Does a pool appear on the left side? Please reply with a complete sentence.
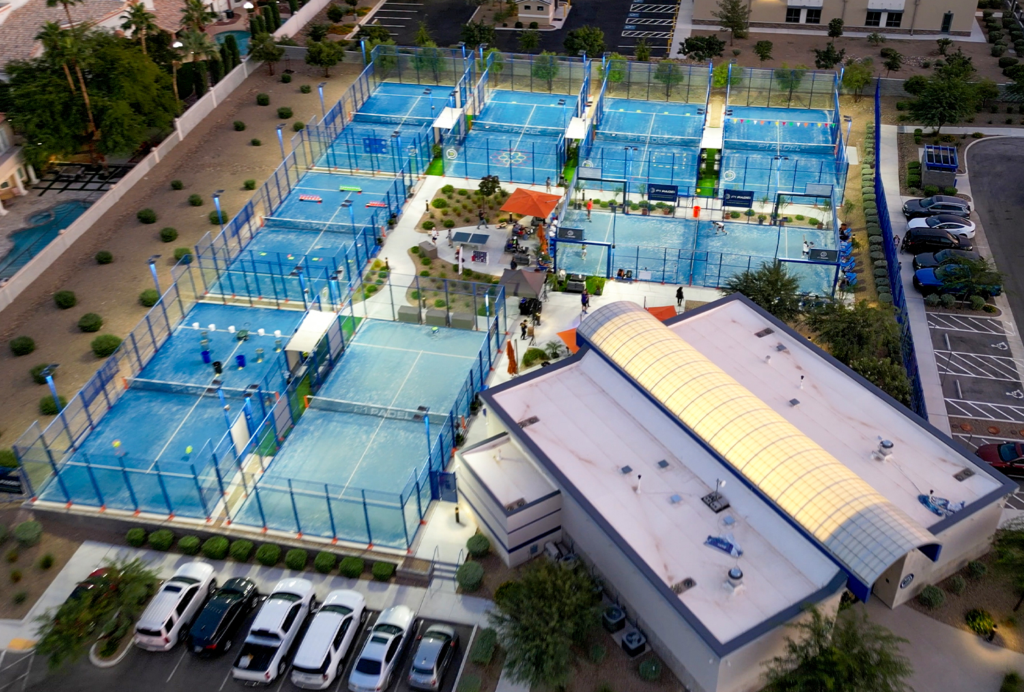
Yes, on the left side there is a pool.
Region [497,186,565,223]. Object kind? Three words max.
umbrella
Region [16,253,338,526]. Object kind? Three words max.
sports court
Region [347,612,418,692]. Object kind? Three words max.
car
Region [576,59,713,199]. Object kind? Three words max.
sports court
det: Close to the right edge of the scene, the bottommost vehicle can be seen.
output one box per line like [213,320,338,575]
[963,436,1024,474]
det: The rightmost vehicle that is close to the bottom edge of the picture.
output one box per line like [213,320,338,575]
[404,635,459,692]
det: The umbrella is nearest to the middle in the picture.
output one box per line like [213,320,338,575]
[506,336,523,379]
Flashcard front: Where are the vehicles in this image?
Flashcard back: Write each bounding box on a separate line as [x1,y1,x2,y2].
[236,582,320,686]
[190,578,268,664]
[913,246,991,270]
[905,189,976,218]
[136,563,224,656]
[293,593,371,690]
[908,211,980,236]
[904,224,976,255]
[404,635,459,692]
[347,612,418,692]
[963,436,1024,474]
